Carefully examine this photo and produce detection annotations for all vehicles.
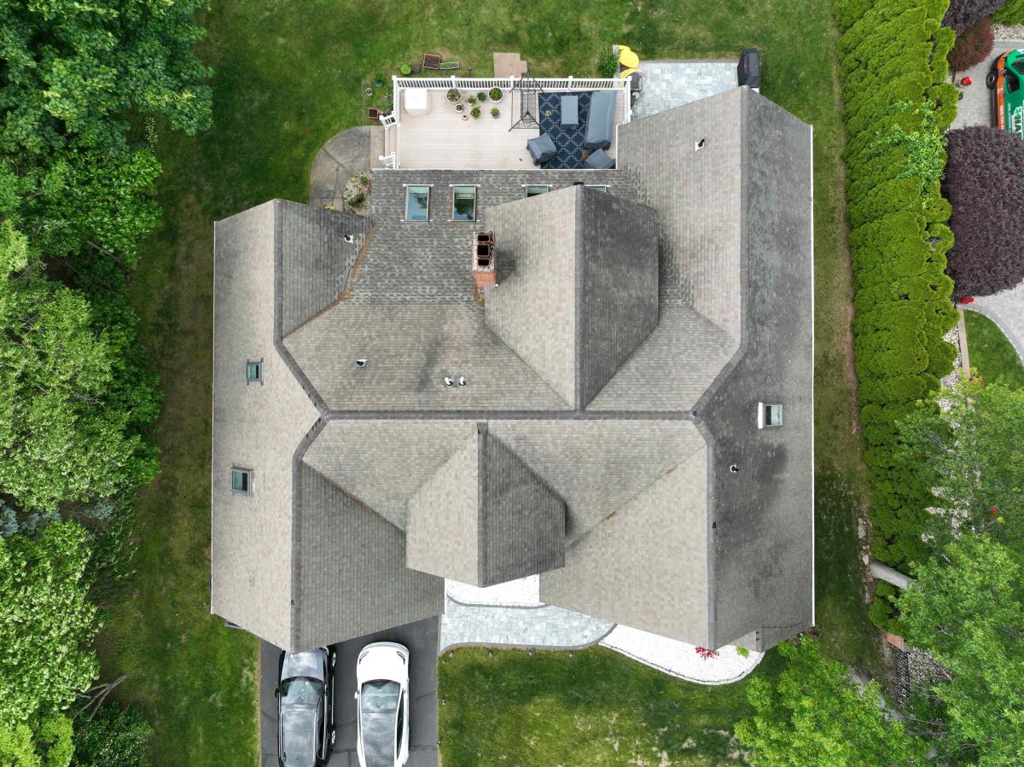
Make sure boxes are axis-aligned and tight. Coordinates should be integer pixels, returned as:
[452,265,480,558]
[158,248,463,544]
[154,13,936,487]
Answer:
[985,50,1024,168]
[352,637,411,767]
[271,642,336,767]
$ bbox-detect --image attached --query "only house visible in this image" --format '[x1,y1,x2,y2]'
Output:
[209,86,817,652]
